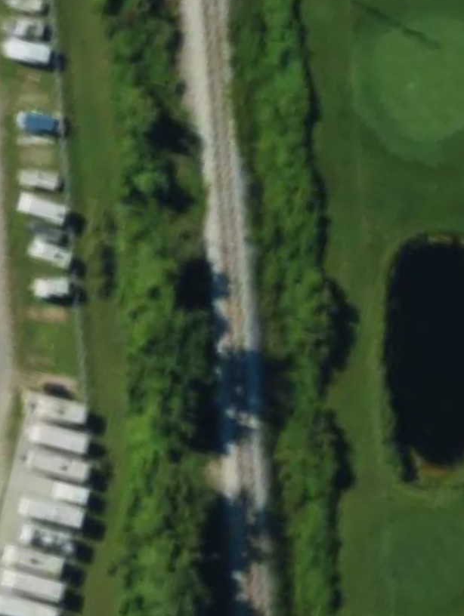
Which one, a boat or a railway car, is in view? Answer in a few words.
boat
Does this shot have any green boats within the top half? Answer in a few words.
No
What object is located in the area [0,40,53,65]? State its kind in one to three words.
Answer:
trailer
